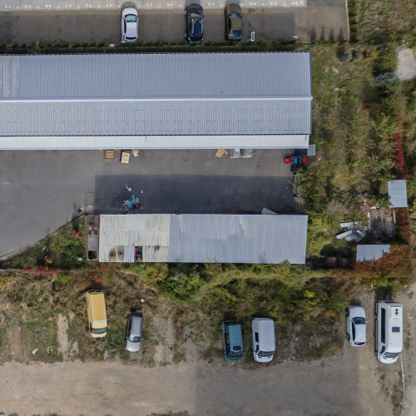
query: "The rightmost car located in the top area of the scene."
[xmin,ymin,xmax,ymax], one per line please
[224,4,244,41]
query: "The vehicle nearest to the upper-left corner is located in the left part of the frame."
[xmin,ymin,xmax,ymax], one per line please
[121,7,139,43]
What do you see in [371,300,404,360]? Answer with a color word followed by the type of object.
white vehicle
